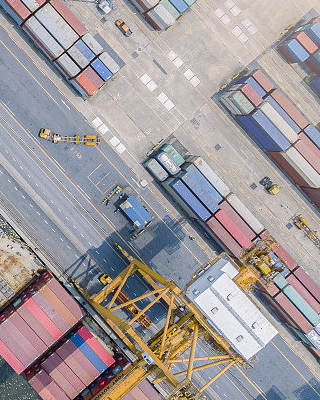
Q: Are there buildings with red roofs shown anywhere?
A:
No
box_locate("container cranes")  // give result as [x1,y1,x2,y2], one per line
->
[73,238,298,400]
